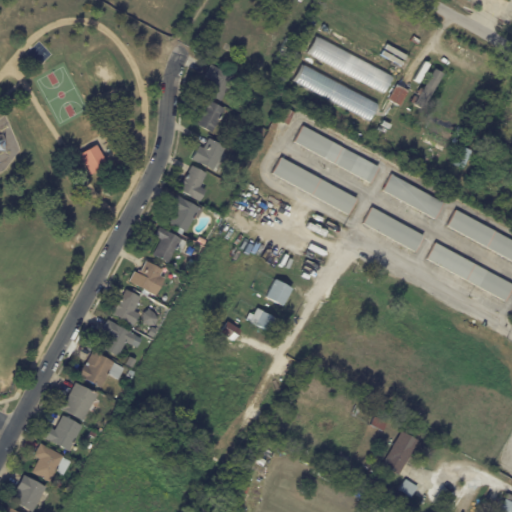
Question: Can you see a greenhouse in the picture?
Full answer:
Yes, there's a greenhouse down there.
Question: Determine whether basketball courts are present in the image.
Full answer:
Yes, this view includes a basketball court.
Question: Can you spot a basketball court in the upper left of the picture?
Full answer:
Yes, a basketball court is visible in the upper left of the picture.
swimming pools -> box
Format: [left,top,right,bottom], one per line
[193,212,212,235]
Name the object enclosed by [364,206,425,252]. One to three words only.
building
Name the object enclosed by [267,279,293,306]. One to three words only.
shed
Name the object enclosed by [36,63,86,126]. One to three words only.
basketball court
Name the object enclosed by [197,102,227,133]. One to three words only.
house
